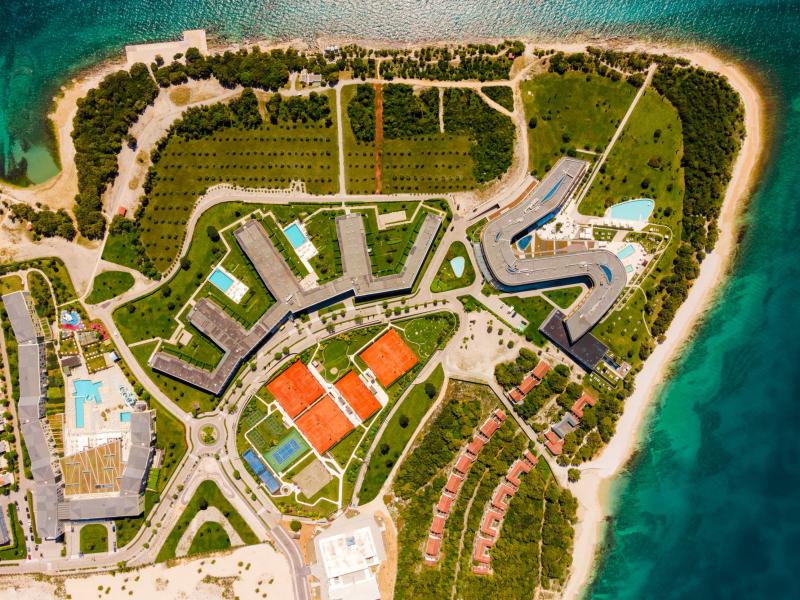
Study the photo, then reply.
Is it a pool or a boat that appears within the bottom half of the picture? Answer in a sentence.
You can see a pool within the bottom half of the picture.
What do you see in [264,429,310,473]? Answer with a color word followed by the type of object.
green tennis court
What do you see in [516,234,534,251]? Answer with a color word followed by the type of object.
blue swimming pool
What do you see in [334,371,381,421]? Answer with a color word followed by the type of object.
orange tennis court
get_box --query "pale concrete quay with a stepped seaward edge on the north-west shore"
[125,28,207,64]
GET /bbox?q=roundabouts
[191,417,226,452]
